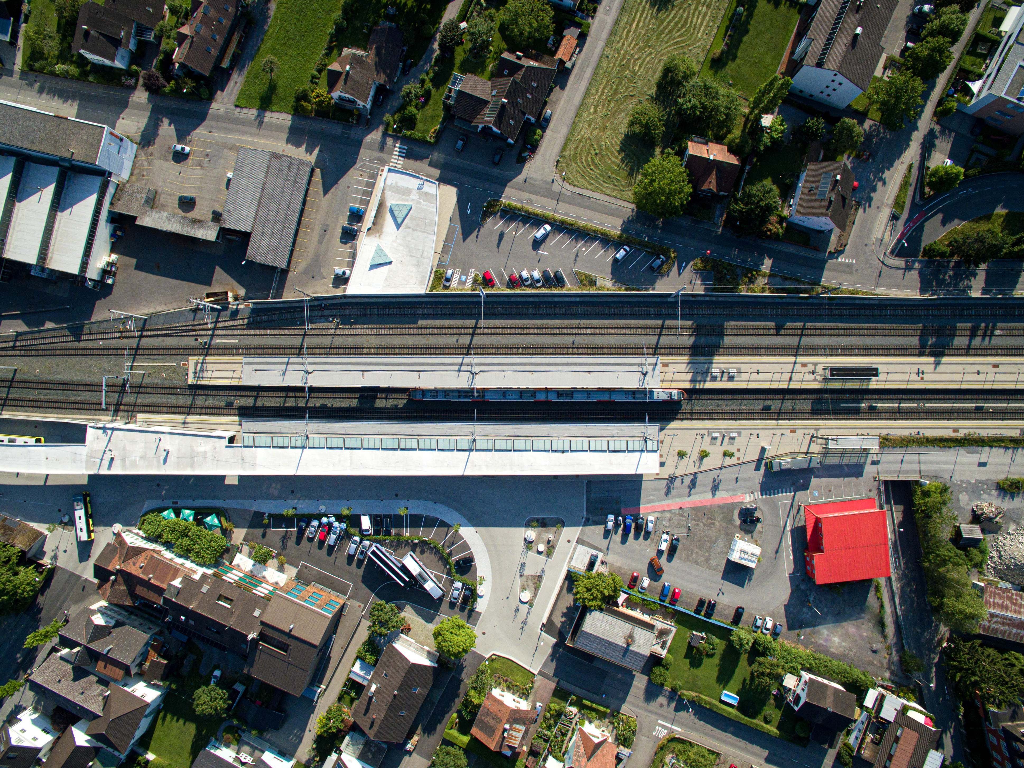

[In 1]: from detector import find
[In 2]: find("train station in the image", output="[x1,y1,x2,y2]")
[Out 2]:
[0,357,1024,478]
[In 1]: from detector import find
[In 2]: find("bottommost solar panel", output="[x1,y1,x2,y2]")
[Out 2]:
[816,172,833,199]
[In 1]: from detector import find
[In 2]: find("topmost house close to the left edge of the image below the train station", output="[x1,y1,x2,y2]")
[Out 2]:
[0,508,50,554]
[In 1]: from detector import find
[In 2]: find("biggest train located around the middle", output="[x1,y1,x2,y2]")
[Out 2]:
[409,388,685,400]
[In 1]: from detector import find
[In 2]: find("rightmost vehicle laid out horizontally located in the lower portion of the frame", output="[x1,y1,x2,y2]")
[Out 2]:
[766,455,819,472]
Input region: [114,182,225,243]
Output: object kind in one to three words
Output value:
shed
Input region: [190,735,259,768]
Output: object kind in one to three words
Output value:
house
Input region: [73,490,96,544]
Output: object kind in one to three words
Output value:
bus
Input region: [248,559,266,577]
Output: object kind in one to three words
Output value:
umbrella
